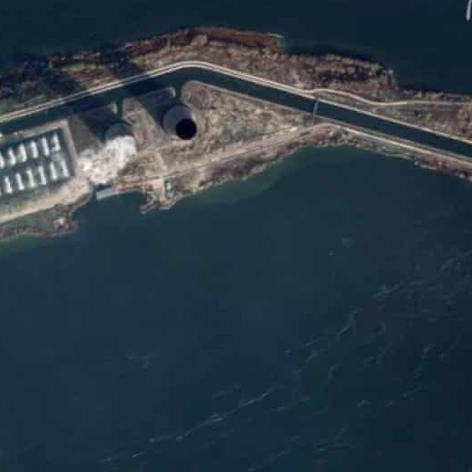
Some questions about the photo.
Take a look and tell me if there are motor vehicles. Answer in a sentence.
No, the photo shows no motor vehicle.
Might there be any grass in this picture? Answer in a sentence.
No, there's no grass in this view.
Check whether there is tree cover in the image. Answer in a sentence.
No, tree cover can't be seen anywhere here.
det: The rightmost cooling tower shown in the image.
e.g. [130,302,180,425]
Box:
[161,102,197,140]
